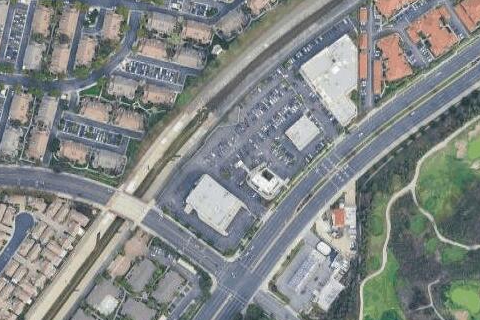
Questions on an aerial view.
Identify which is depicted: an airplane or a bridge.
bridge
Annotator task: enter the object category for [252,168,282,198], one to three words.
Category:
building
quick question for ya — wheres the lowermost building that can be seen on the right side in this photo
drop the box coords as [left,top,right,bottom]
[317,282,348,314]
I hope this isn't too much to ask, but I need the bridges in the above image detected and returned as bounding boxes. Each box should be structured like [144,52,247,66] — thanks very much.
[106,186,154,226]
